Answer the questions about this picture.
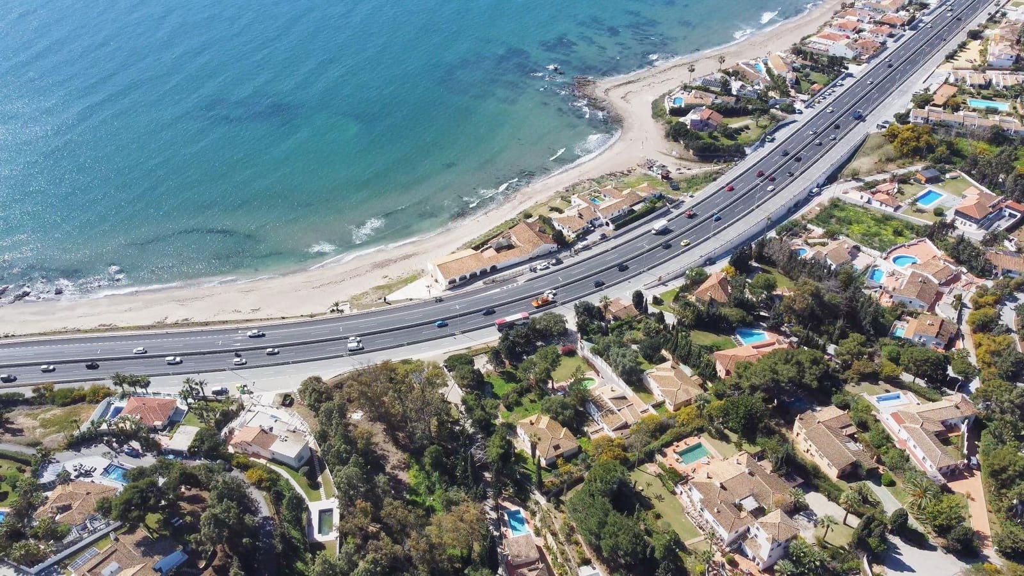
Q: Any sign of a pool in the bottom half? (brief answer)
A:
Yes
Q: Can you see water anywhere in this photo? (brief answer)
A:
Yes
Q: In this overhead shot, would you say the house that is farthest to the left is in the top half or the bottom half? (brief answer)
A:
bottom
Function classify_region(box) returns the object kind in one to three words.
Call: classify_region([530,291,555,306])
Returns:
vehicle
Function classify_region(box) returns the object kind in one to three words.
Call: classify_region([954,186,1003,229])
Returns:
house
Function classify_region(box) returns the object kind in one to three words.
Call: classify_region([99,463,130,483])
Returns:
swimming pool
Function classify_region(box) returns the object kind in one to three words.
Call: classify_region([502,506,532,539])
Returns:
swimming pool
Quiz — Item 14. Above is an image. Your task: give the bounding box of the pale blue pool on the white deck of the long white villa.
[872,389,905,405]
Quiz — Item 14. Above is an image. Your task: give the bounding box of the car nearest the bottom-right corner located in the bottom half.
[965,453,983,468]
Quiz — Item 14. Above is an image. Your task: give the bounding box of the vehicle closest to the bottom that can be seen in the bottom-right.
[794,508,815,523]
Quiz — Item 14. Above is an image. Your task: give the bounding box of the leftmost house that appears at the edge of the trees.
[33,481,118,534]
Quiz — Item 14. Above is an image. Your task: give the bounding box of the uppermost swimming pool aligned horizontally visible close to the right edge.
[967,98,1011,110]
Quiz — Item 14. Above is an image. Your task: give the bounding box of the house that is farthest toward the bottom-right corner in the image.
[895,394,978,479]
